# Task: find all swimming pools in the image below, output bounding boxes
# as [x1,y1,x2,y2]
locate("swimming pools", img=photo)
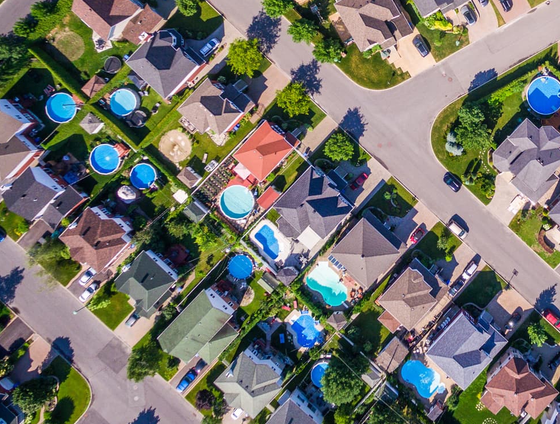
[108,88,142,119]
[290,313,324,350]
[89,143,123,175]
[129,162,159,190]
[399,357,444,401]
[219,185,256,220]
[308,361,331,388]
[527,75,560,114]
[252,222,281,261]
[305,259,350,308]
[45,92,80,123]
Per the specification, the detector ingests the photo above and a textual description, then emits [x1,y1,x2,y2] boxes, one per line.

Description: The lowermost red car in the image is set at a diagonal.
[541,307,560,328]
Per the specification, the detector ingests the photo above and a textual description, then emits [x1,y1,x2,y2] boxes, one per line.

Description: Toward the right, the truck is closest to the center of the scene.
[347,169,372,194]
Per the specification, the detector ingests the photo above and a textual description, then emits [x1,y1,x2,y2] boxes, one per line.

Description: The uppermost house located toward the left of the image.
[72,0,168,45]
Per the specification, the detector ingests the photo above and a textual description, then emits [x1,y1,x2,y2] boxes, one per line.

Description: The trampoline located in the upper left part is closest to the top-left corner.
[104,57,122,73]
